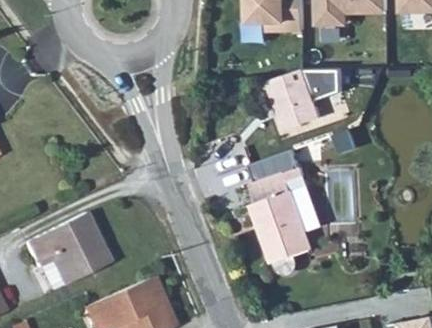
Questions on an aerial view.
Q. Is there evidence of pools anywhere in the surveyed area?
Yes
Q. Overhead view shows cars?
Yes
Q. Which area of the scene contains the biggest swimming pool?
right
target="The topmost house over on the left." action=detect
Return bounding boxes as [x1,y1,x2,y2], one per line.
[27,212,116,290]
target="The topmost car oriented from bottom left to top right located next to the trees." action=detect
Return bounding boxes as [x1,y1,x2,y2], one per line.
[214,138,236,158]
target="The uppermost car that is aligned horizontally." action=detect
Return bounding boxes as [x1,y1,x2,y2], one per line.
[218,158,248,172]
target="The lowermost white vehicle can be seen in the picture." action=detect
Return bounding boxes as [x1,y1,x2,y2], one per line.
[222,172,249,188]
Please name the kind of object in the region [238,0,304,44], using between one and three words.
house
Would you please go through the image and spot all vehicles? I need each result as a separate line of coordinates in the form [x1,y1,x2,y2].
[214,138,236,158]
[114,71,130,92]
[218,158,248,172]
[222,172,249,188]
